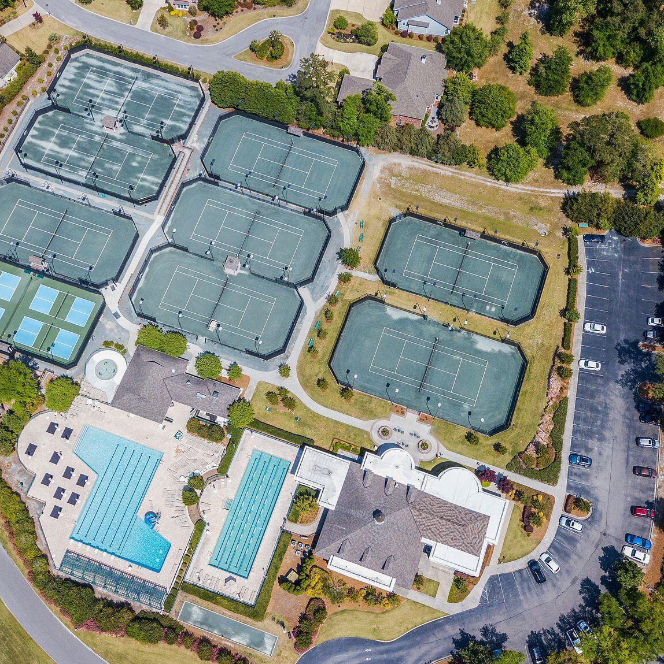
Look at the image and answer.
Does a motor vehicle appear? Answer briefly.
Yes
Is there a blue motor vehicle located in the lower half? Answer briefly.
Yes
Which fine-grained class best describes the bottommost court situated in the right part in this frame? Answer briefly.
tennis court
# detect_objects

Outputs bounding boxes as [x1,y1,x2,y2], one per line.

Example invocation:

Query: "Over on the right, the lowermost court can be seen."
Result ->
[330,295,531,436]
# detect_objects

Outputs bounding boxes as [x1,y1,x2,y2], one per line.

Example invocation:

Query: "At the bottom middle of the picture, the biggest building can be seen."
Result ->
[294,445,509,593]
